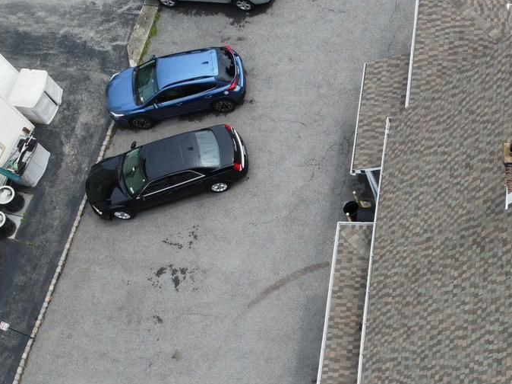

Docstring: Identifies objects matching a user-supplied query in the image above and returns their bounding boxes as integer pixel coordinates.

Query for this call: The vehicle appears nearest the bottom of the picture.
[82,121,251,220]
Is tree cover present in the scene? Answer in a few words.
No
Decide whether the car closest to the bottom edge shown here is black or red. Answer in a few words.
black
